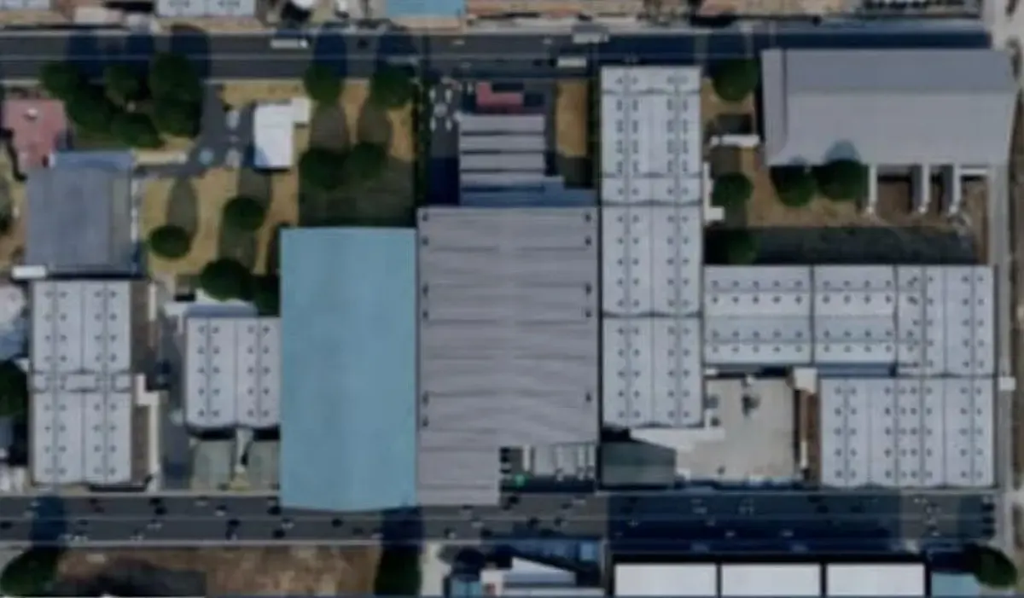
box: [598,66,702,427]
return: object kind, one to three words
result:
building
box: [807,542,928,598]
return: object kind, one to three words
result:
building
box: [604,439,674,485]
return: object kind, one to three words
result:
shed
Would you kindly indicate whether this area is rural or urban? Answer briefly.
urban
